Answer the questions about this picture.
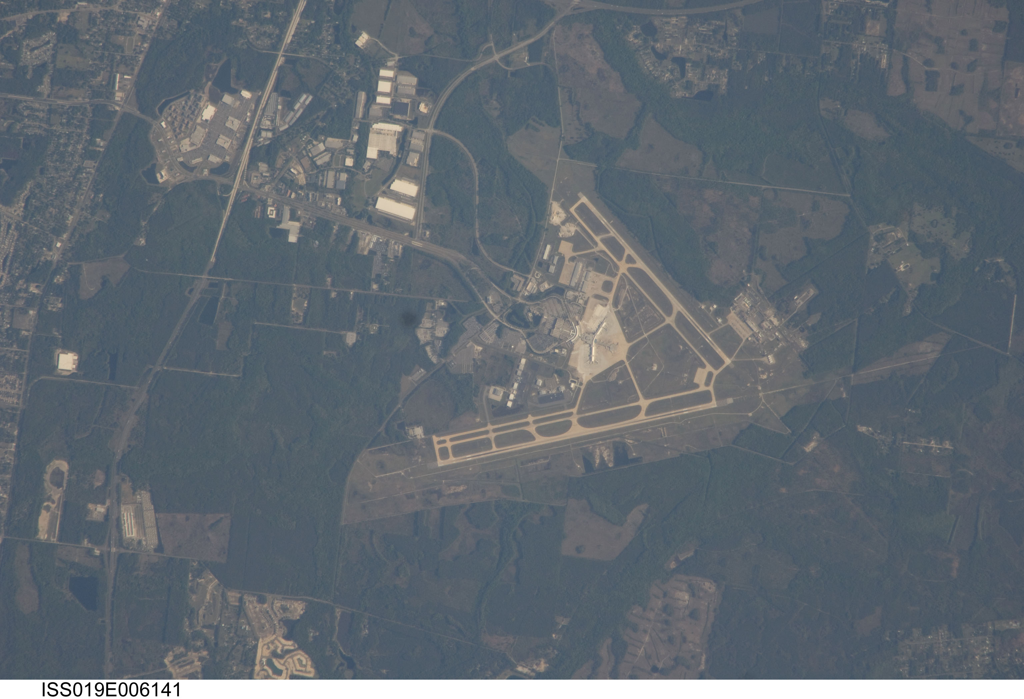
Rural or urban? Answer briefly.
rural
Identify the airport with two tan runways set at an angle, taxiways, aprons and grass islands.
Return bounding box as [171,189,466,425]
[427,177,744,469]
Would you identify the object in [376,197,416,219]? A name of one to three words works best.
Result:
building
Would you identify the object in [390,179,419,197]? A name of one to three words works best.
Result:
building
